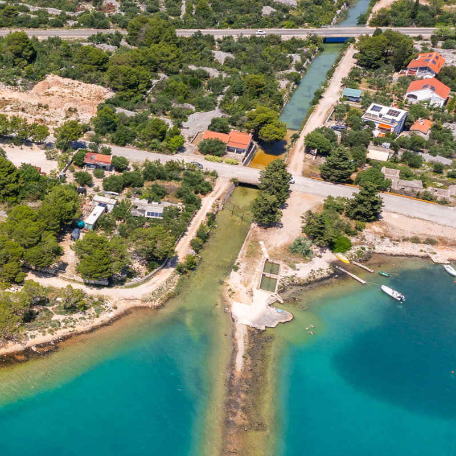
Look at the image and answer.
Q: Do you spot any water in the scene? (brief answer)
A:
Yes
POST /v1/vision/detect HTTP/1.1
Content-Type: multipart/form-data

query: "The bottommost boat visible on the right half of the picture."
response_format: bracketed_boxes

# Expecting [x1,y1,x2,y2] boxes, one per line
[380,284,408,301]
